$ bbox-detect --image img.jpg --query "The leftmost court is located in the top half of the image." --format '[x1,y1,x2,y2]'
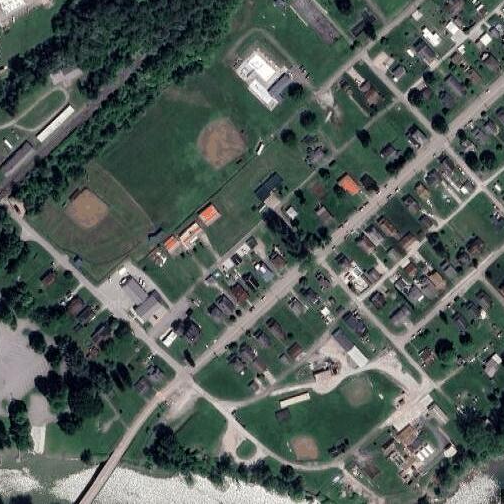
[292,0,340,46]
